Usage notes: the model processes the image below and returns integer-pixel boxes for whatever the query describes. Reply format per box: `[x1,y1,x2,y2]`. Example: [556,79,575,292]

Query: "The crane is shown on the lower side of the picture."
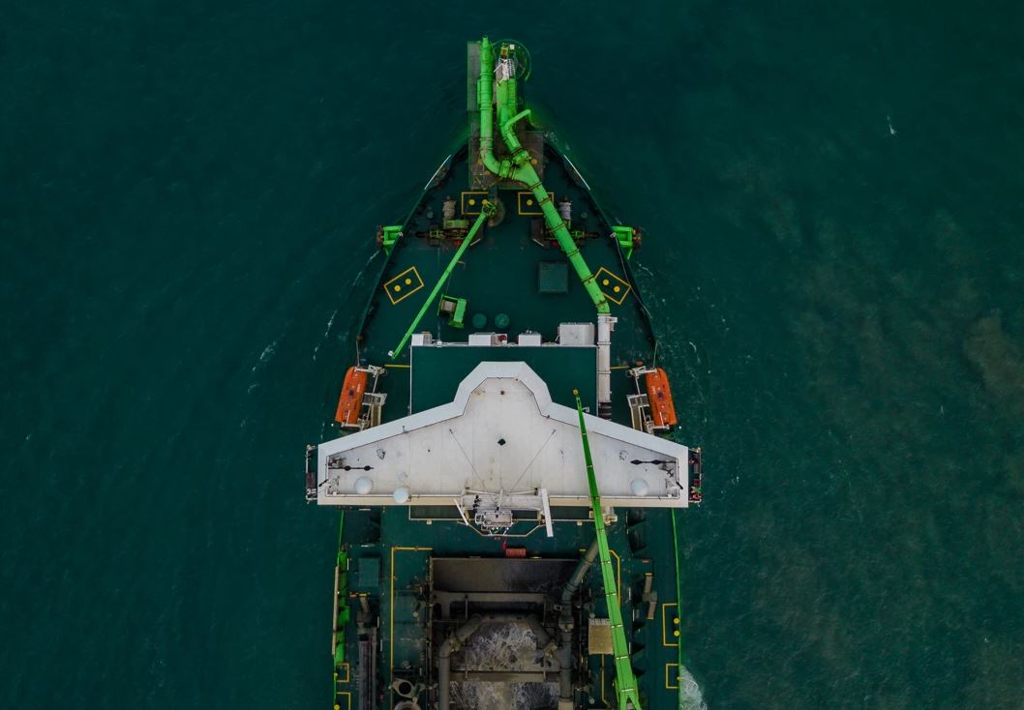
[573,389,648,710]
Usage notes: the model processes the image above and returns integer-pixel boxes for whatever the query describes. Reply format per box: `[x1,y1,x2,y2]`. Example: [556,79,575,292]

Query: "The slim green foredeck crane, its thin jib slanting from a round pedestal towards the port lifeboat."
[388,198,506,358]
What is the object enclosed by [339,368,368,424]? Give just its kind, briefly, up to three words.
boat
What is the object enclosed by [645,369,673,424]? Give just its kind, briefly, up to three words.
boat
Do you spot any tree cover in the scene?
No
